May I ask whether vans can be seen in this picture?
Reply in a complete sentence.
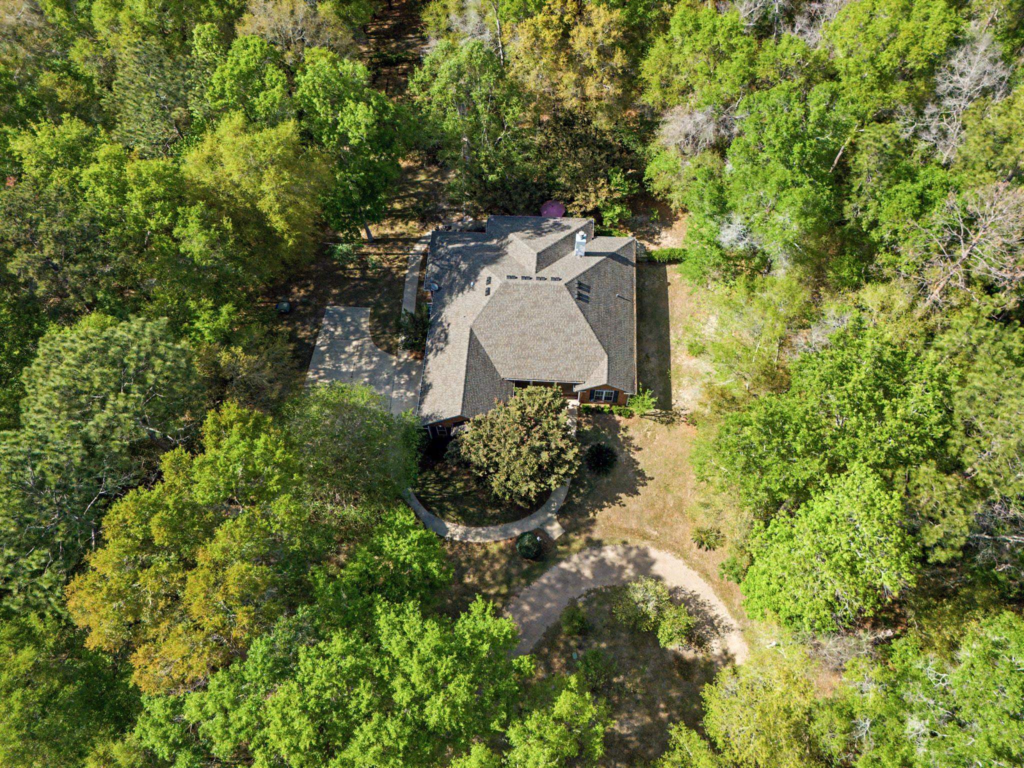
No, there's no van here.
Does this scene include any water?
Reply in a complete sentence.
No, there's no water in this view.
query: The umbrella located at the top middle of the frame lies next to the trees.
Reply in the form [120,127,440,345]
[540,200,565,217]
